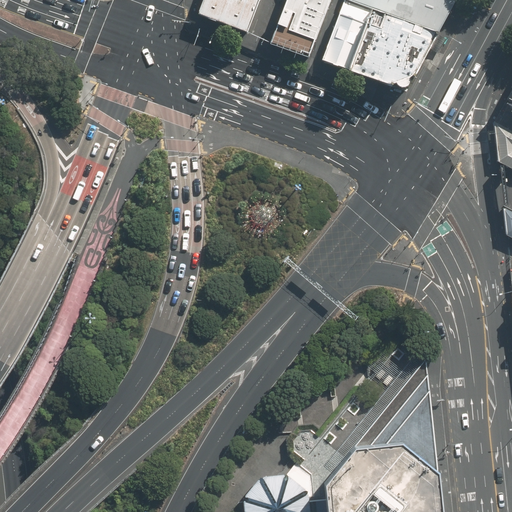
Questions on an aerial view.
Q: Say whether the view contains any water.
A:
No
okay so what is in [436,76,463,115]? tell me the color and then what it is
white bus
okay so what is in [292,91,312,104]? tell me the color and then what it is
white vehicle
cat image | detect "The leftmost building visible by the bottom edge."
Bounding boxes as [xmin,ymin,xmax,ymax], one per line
[242,474,310,512]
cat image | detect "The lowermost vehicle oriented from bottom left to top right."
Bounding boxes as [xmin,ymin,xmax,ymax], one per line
[90,436,104,450]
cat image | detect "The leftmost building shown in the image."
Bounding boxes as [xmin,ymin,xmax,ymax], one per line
[199,0,262,33]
